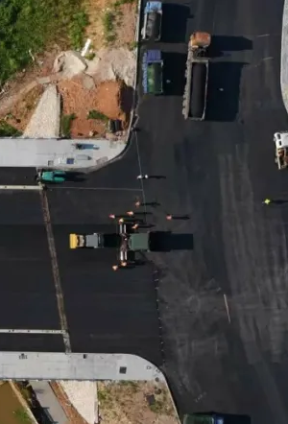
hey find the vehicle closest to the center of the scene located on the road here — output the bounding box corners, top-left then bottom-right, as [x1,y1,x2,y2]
[70,235,105,249]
